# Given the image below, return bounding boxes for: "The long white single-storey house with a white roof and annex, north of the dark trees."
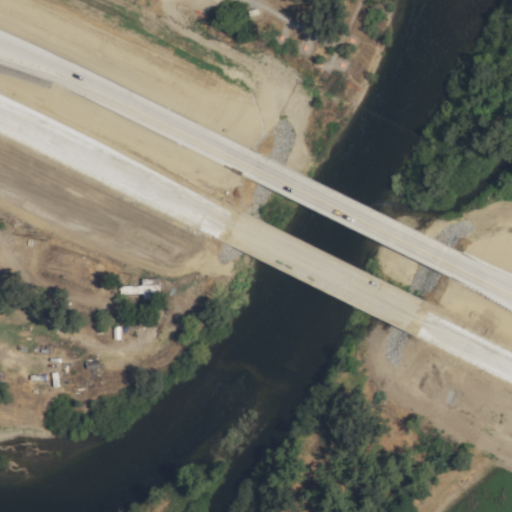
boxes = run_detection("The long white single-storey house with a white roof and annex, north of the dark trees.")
[120,278,161,296]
